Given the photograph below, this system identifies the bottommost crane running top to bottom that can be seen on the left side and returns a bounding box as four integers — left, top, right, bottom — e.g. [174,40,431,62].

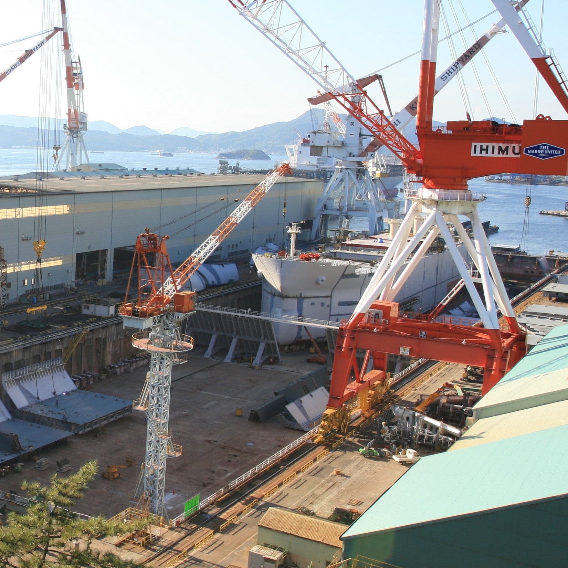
[118,169,298,519]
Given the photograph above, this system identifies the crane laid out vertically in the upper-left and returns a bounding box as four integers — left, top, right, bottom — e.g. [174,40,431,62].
[52,0,91,172]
